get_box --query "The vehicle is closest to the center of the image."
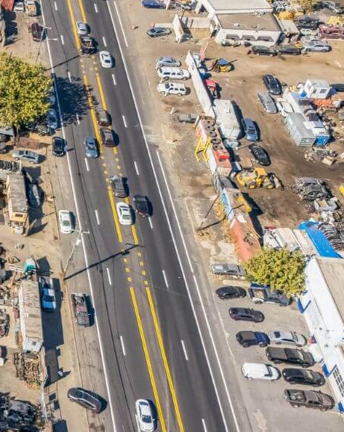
[134,194,152,218]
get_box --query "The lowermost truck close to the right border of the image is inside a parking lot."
[282,388,336,412]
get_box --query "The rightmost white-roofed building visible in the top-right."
[302,79,331,105]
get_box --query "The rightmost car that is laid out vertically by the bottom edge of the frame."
[135,396,157,432]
